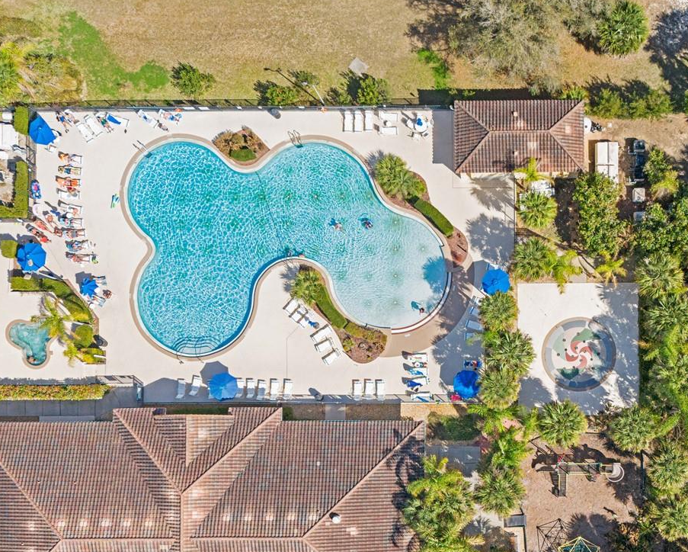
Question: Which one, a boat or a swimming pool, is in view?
swimming pool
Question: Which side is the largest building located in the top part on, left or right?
right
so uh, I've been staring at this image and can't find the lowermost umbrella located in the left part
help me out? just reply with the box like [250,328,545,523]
[208,371,239,401]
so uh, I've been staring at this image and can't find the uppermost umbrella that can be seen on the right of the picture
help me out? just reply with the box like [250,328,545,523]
[482,267,509,294]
